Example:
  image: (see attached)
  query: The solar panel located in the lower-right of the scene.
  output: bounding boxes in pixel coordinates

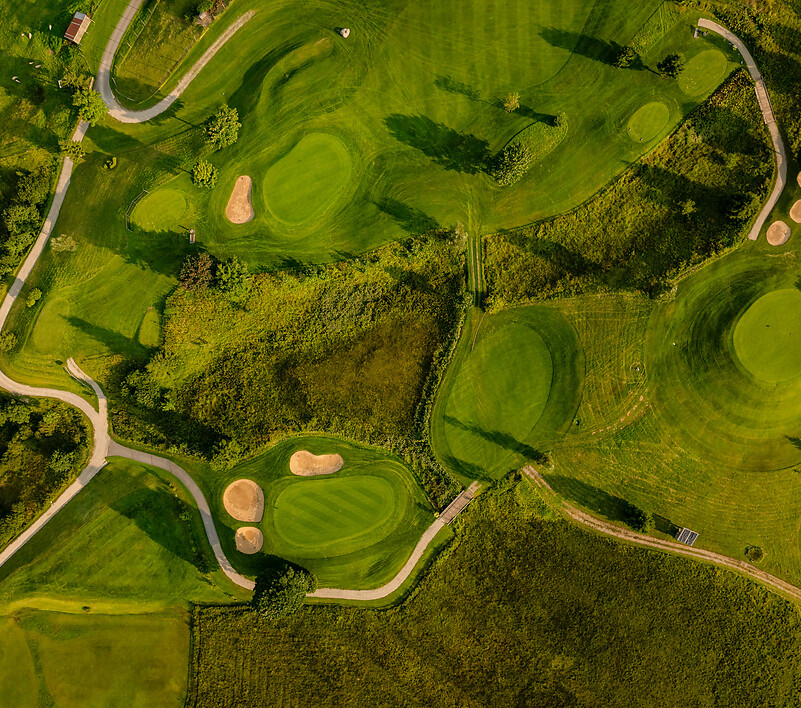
[677,526,699,546]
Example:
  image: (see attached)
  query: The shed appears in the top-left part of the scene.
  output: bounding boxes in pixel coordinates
[64,12,101,45]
